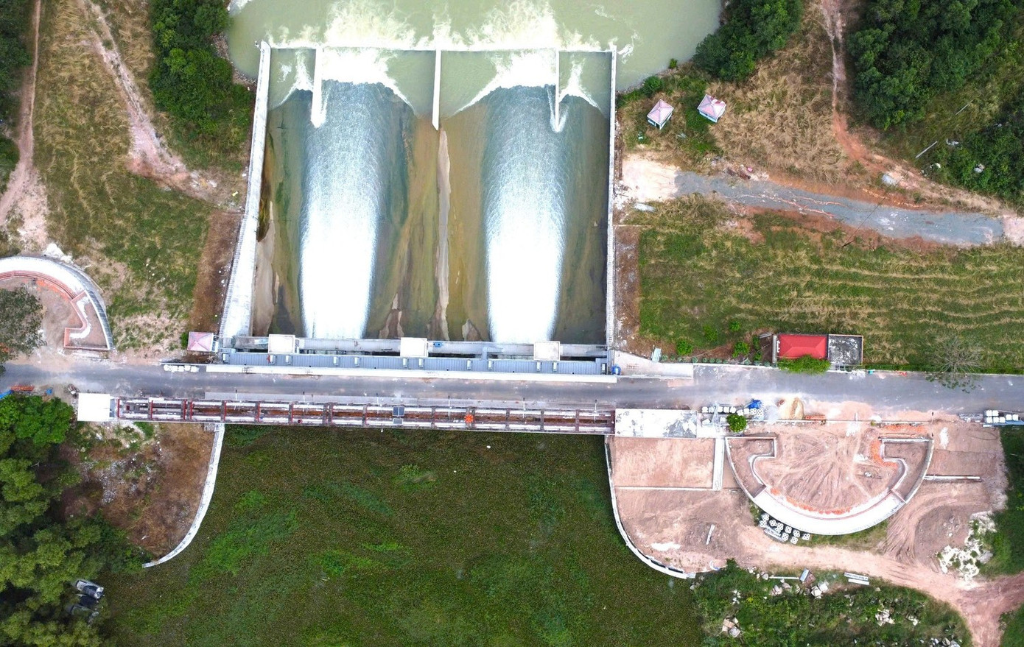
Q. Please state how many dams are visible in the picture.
1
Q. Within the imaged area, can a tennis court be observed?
No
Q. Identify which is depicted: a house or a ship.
house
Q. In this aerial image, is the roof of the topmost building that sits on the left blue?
No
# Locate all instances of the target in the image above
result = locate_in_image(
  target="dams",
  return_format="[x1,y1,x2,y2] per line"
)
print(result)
[205,42,617,410]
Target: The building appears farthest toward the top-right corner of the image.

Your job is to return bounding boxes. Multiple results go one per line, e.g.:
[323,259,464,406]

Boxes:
[696,94,726,124]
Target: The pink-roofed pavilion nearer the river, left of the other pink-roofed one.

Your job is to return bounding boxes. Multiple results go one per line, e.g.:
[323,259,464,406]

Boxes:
[647,99,674,131]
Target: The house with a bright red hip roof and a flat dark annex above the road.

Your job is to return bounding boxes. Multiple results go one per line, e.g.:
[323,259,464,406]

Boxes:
[776,335,863,368]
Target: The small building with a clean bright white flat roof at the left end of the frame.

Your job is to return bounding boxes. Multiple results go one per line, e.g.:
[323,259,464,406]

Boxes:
[77,393,122,421]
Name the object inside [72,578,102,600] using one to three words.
car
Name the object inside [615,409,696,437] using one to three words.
building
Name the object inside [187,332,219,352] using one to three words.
building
